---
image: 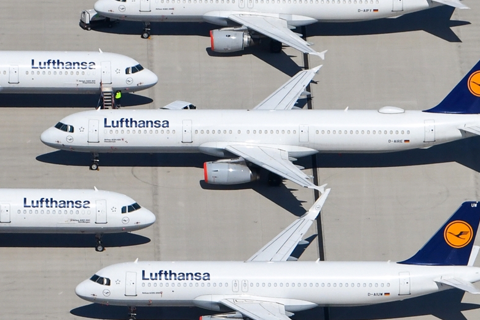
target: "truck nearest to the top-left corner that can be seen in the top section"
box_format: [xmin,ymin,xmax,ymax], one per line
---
[80,4,127,29]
